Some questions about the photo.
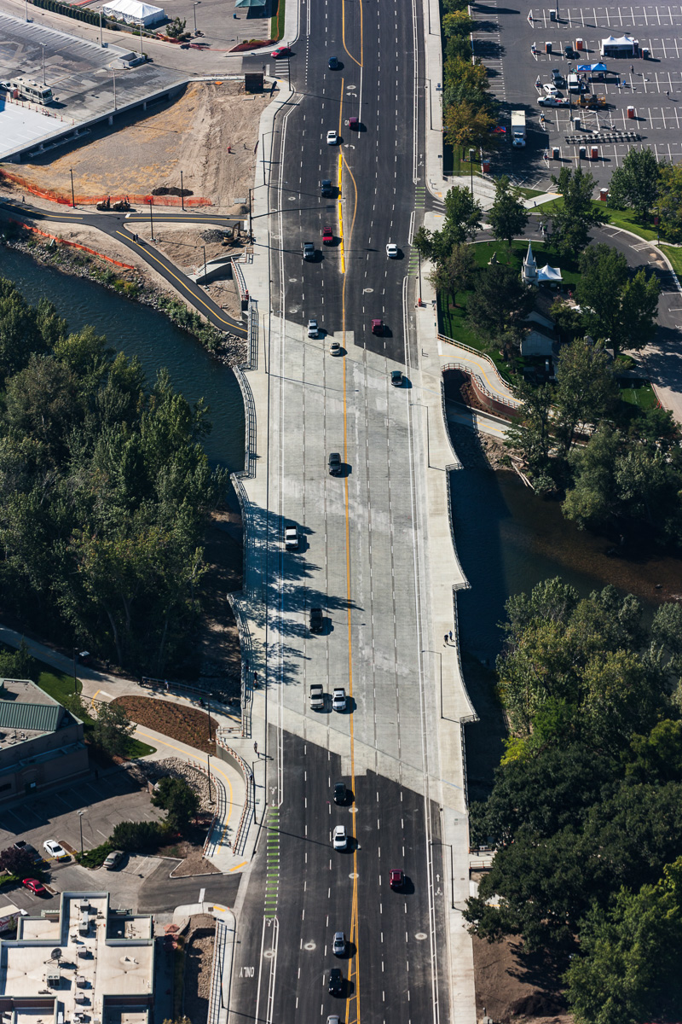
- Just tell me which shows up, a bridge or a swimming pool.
bridge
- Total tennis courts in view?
none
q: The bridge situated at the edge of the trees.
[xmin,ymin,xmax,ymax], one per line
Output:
[226,289,482,810]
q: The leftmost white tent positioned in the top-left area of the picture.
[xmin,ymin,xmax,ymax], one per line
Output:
[99,0,168,28]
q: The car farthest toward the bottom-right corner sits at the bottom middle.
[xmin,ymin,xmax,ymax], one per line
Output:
[389,869,405,887]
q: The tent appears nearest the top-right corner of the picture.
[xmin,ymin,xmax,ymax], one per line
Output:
[601,37,640,62]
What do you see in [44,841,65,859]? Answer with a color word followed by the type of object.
white car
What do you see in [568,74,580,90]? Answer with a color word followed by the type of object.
white vehicle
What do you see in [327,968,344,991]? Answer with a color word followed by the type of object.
black car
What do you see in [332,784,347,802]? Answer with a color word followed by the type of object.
black car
